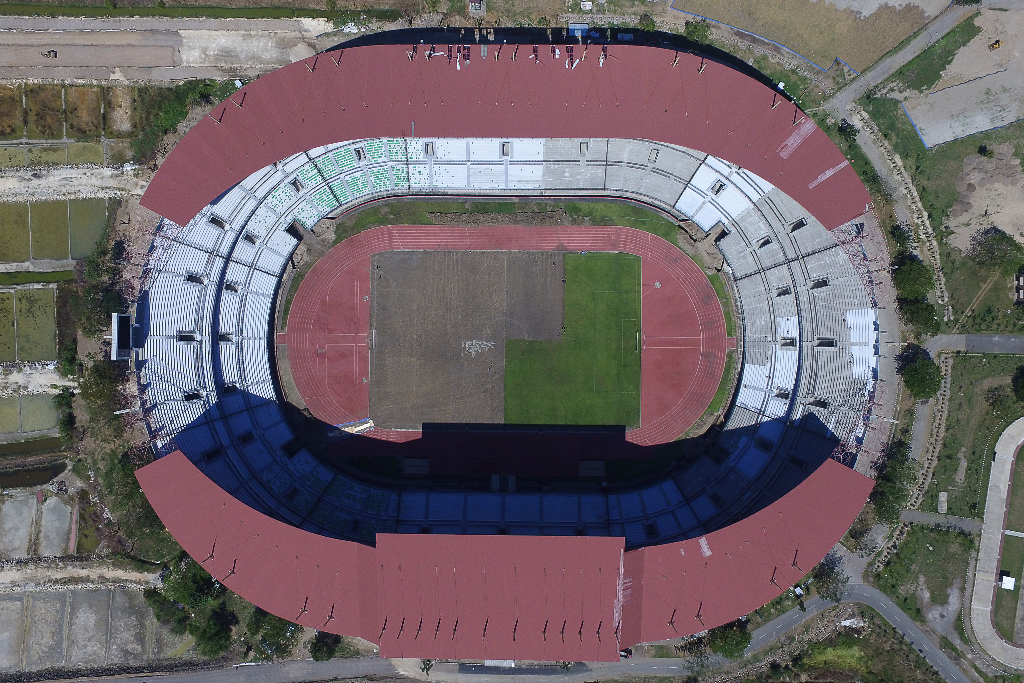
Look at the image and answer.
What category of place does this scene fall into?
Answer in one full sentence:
The picture captures a sports ground.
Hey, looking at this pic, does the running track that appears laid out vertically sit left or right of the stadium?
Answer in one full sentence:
The running track that appears laid out vertically can be seen on the right of the stadium.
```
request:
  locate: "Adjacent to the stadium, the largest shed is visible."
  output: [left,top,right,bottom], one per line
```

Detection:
[569,21,589,39]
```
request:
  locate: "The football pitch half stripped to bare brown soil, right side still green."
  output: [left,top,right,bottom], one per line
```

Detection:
[370,251,642,431]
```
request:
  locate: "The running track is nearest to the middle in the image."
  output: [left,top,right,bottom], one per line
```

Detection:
[279,225,736,476]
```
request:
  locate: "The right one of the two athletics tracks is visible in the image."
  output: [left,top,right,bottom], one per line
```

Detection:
[970,417,1024,671]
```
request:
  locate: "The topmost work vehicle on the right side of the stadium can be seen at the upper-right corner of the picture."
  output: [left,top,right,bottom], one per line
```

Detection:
[989,39,1007,52]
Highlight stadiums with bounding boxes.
[99,44,910,662]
